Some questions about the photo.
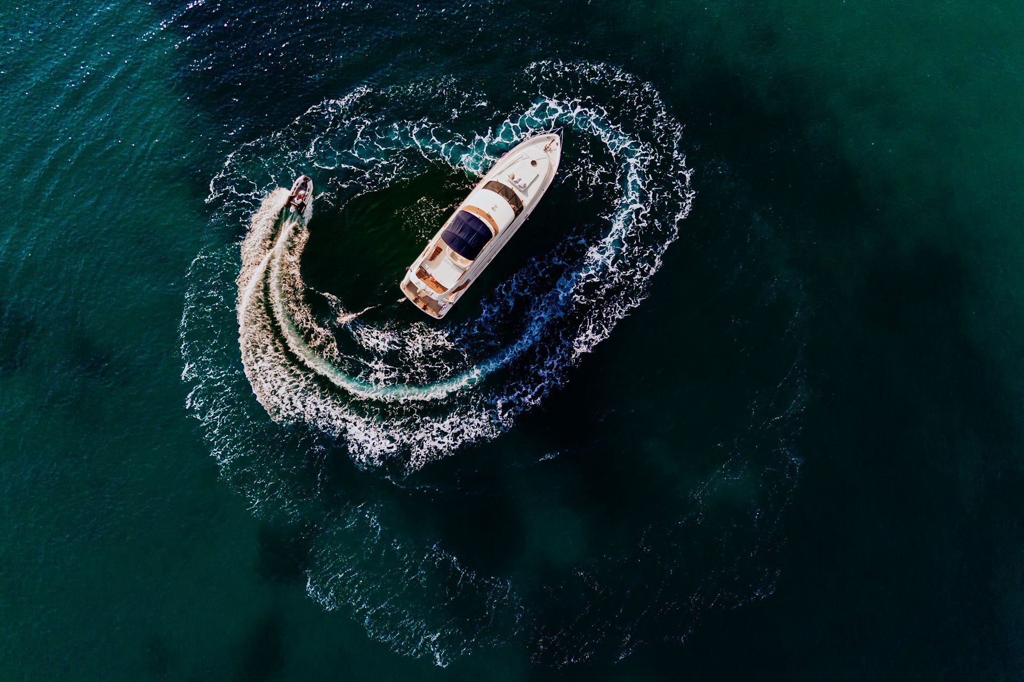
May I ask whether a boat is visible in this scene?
Yes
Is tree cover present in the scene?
No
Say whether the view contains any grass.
No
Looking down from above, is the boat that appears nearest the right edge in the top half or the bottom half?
top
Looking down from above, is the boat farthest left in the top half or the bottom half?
top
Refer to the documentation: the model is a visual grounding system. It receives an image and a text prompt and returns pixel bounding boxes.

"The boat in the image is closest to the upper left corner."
[284,173,313,215]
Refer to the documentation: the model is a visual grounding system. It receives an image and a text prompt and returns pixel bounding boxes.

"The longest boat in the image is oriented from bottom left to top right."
[402,125,563,320]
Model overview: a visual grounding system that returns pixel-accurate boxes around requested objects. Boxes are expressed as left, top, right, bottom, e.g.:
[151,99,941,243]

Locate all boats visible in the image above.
[284,173,313,215]
[402,125,563,320]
